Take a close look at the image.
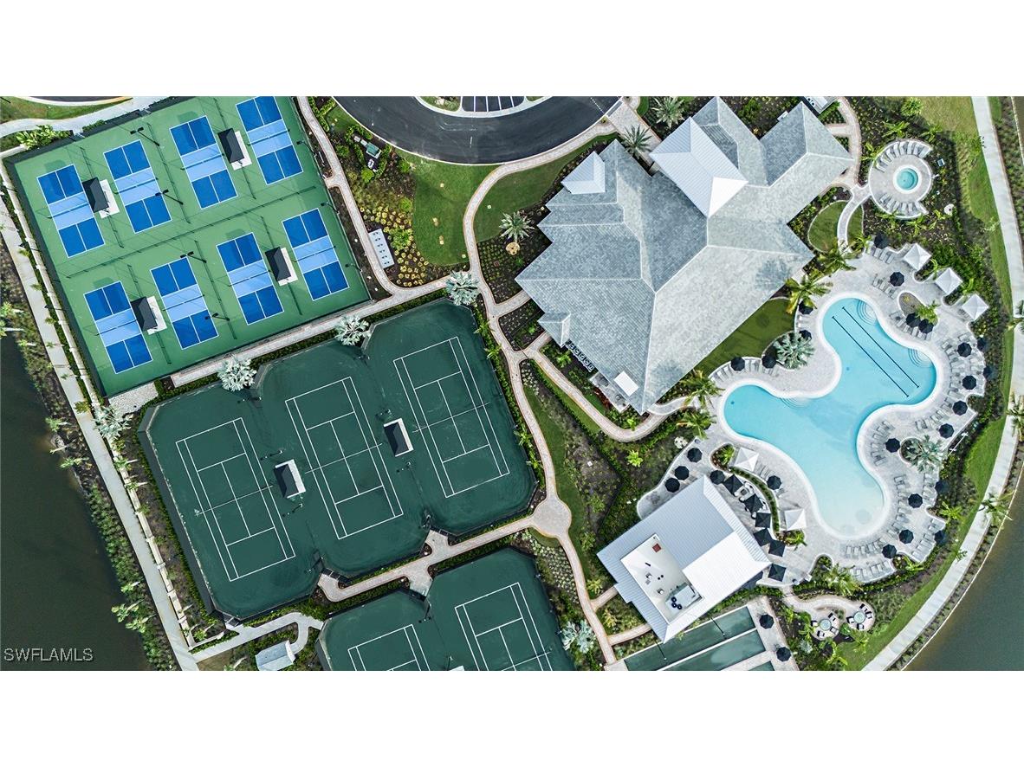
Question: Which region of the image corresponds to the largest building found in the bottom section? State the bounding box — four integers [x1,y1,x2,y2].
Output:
[597,475,772,643]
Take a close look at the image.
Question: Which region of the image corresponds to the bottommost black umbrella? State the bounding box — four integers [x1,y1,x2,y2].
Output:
[775,645,791,661]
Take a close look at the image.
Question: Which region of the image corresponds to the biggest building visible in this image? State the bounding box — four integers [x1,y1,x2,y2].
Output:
[515,96,855,415]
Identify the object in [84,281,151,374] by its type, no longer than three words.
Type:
sports court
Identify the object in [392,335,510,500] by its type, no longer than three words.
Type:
tennis court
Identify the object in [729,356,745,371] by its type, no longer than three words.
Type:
umbrella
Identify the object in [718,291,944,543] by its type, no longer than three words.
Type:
swimming pool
